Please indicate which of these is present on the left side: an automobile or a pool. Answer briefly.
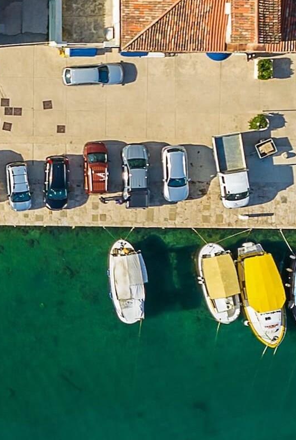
automobile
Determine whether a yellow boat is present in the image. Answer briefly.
Yes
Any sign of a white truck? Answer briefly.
Yes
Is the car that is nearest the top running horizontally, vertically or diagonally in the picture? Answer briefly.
horizontally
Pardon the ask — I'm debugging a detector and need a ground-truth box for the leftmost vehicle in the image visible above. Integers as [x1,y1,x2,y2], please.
[3,161,33,212]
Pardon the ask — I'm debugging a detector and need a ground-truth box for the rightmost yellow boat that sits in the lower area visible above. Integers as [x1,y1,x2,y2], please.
[232,240,289,349]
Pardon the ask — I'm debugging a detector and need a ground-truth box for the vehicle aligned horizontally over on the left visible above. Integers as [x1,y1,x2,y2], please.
[62,61,122,88]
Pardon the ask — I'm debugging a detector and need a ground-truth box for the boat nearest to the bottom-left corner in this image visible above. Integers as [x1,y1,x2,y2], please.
[104,239,147,324]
